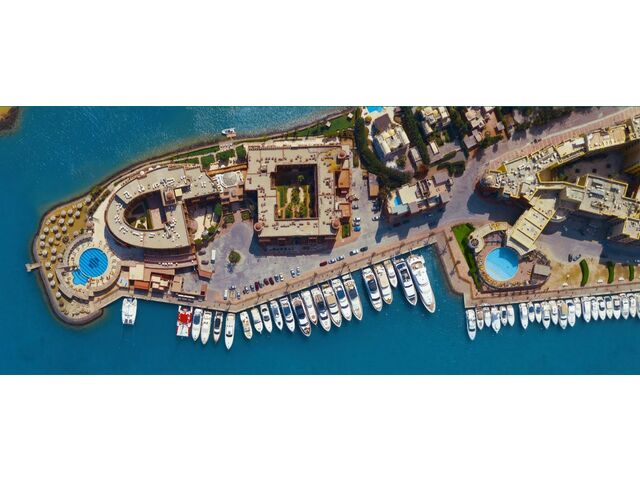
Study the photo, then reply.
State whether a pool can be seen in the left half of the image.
Yes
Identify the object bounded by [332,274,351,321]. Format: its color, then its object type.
white boat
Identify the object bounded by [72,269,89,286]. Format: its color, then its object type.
blue swimming pool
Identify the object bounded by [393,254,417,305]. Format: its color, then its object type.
white boat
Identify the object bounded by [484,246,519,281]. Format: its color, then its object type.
blue swimming pool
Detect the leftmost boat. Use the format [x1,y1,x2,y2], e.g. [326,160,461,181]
[122,299,138,325]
